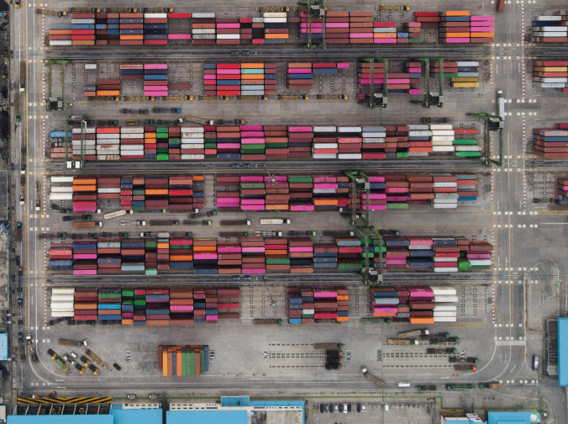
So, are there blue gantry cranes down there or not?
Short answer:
No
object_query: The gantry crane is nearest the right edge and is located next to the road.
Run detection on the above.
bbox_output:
[464,111,505,167]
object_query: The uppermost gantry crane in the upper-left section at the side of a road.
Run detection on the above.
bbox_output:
[46,57,75,111]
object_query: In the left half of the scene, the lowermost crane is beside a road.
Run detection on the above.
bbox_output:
[63,115,94,171]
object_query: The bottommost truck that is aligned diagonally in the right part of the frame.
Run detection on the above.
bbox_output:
[359,363,385,387]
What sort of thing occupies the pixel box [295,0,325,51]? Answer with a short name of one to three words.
container crane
